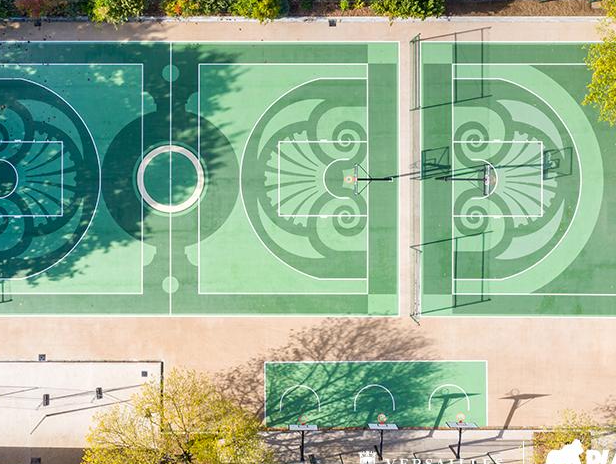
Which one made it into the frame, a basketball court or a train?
basketball court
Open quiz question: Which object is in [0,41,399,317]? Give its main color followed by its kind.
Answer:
green basketball court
